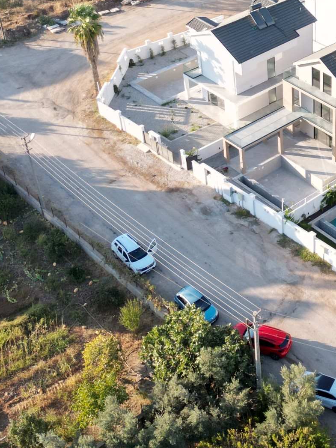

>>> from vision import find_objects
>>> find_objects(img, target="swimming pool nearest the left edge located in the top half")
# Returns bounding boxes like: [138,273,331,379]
[127,53,199,104]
